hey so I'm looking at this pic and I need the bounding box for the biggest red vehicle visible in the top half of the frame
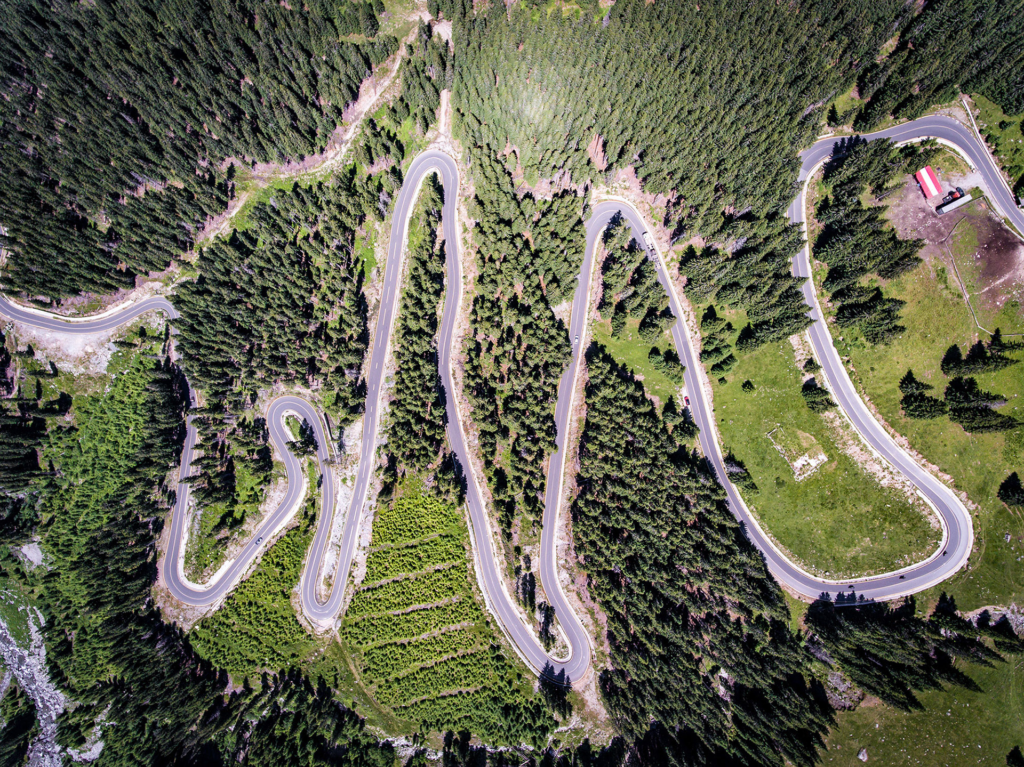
[940,191,960,205]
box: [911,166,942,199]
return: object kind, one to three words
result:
shed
